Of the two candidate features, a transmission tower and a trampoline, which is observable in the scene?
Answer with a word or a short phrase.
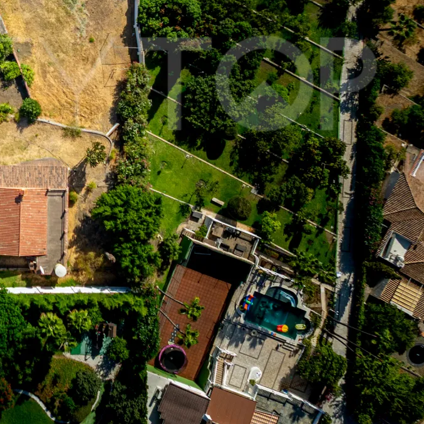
trampoline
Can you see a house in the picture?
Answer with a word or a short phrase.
Yes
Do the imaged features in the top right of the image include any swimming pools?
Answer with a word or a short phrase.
No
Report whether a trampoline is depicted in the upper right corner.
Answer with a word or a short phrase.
No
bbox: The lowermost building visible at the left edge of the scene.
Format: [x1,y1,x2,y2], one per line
[0,164,68,256]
